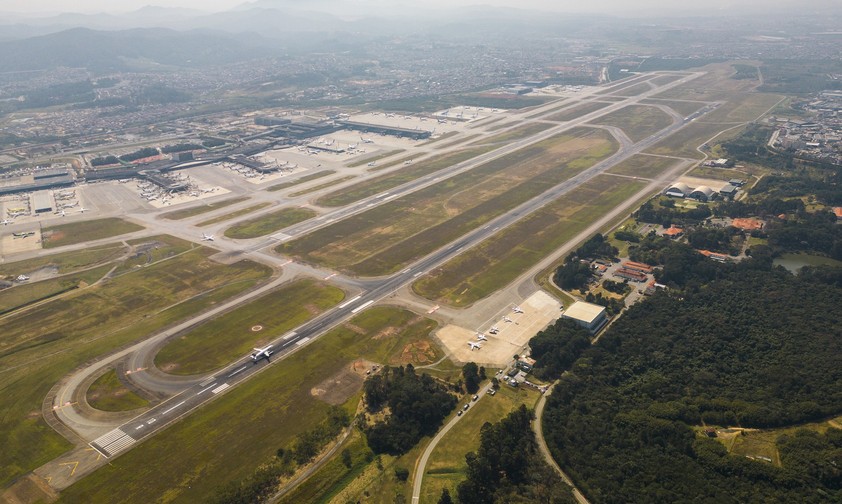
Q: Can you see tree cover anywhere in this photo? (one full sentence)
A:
Yes, the picture does contain tree cover.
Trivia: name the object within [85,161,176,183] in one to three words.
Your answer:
building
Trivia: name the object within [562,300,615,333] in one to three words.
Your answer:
building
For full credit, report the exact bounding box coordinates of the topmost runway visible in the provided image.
[210,71,709,264]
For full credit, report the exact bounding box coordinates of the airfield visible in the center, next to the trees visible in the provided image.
[0,71,733,488]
